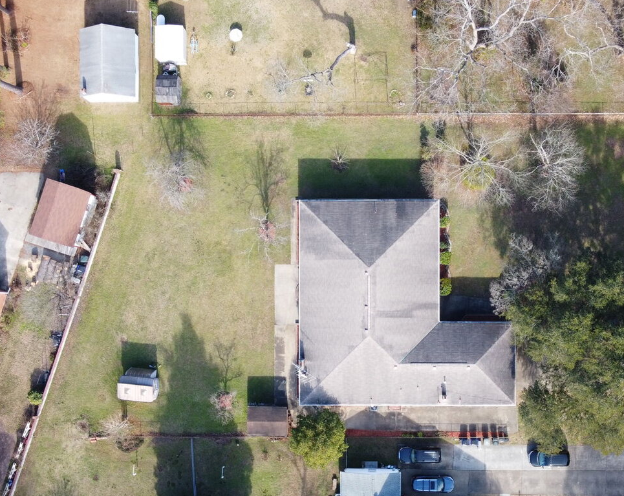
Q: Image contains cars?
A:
Yes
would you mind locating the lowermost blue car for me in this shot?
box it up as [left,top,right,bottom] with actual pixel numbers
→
[413,477,454,496]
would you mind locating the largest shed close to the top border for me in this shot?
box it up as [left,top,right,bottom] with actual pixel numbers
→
[78,24,141,102]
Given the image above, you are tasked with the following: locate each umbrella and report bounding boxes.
[231,28,244,43]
